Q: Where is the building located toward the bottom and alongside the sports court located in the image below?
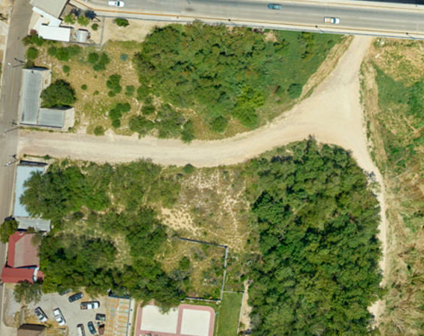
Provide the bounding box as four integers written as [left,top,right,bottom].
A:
[105,294,133,336]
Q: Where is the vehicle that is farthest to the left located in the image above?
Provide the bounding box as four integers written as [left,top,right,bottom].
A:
[32,309,48,323]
